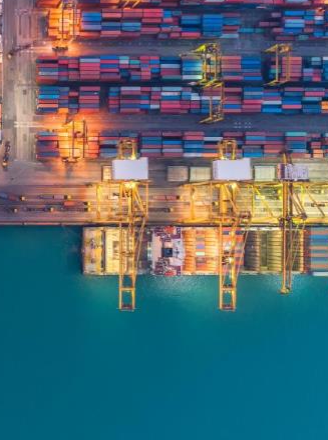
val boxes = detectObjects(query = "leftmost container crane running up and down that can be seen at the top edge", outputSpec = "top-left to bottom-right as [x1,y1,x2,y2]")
[51,2,77,50]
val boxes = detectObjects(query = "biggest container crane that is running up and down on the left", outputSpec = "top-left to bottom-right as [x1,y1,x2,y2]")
[81,135,148,316]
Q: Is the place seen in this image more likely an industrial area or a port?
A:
port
